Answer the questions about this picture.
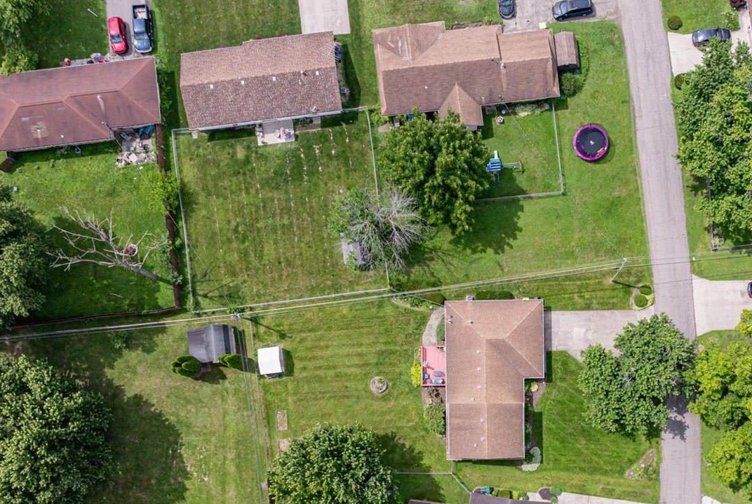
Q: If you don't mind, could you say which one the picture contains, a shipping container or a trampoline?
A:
trampoline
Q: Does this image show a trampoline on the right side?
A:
Yes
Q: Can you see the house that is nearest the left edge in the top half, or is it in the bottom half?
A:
top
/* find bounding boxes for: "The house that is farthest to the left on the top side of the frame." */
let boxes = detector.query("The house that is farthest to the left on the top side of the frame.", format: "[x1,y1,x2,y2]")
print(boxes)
[0,55,164,152]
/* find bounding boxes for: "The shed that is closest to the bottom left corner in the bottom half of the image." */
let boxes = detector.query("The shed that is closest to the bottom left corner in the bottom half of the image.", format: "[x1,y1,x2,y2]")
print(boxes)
[186,324,235,369]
